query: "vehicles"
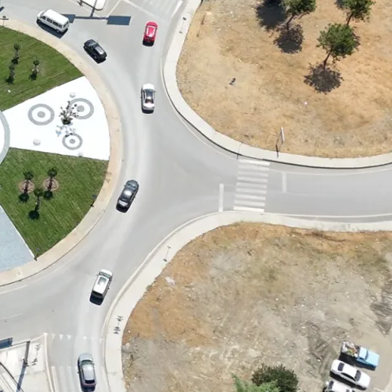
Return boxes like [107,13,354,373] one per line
[78,354,97,392]
[35,9,73,36]
[82,40,108,61]
[321,376,358,392]
[142,23,158,46]
[116,181,138,212]
[329,359,372,390]
[89,269,112,304]
[339,339,381,370]
[140,85,157,112]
